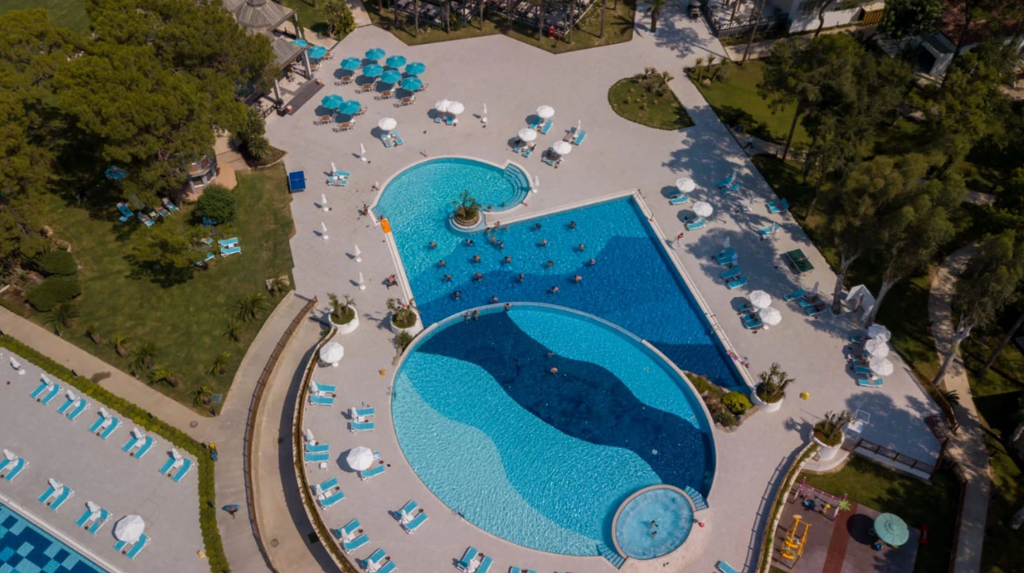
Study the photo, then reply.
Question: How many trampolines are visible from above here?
none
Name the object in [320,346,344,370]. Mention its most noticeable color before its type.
white umbrella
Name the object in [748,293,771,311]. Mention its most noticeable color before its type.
white umbrella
